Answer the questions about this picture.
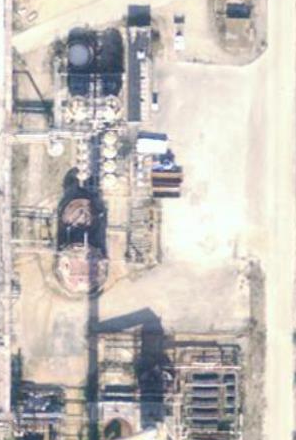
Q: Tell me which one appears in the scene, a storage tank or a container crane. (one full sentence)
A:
Visible in the photo is a storage tank.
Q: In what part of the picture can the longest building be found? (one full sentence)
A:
The longest building is located in the top region of the scene.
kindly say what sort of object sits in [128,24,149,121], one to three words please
building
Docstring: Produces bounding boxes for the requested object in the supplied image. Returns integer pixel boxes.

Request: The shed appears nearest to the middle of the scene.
[136,137,167,153]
